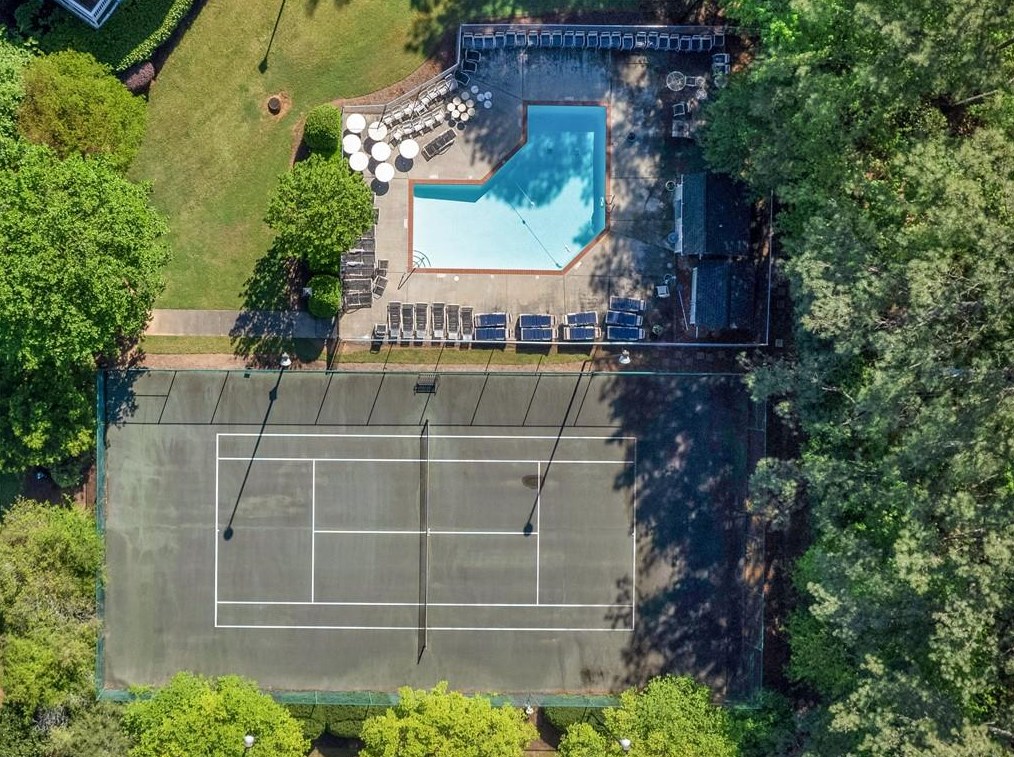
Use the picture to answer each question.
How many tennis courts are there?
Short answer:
1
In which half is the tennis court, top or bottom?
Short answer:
bottom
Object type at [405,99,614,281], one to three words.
swimming pool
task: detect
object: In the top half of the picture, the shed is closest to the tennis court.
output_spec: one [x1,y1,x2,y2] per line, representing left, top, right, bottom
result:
[690,265,754,335]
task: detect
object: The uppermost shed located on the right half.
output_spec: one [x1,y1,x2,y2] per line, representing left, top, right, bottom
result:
[674,171,747,260]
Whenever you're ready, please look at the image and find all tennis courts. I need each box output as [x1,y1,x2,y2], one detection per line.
[105,373,750,692]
